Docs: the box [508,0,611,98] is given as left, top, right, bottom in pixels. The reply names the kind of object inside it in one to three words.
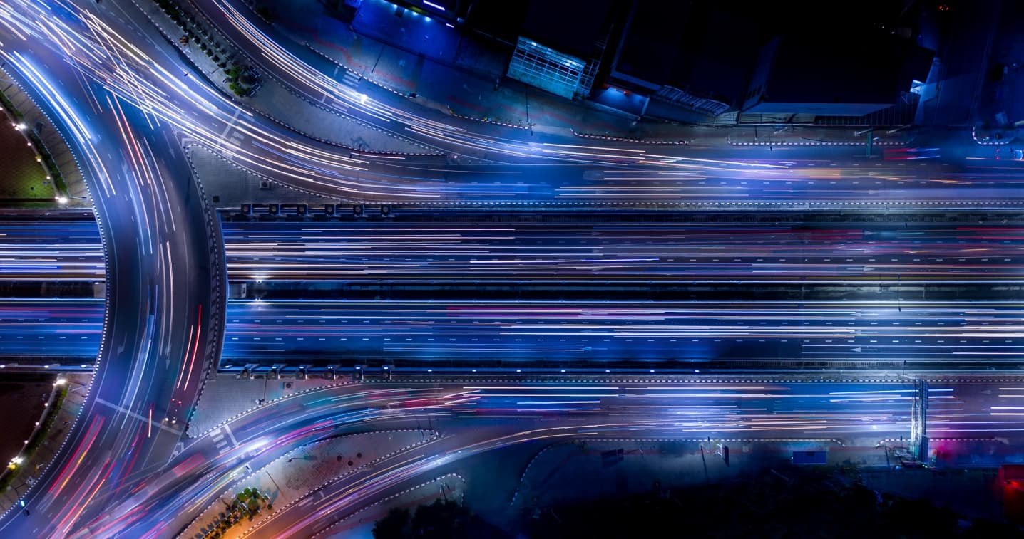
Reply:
building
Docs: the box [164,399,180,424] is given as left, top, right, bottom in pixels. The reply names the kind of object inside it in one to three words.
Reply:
car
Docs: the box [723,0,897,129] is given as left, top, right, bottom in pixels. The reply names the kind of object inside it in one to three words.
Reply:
building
